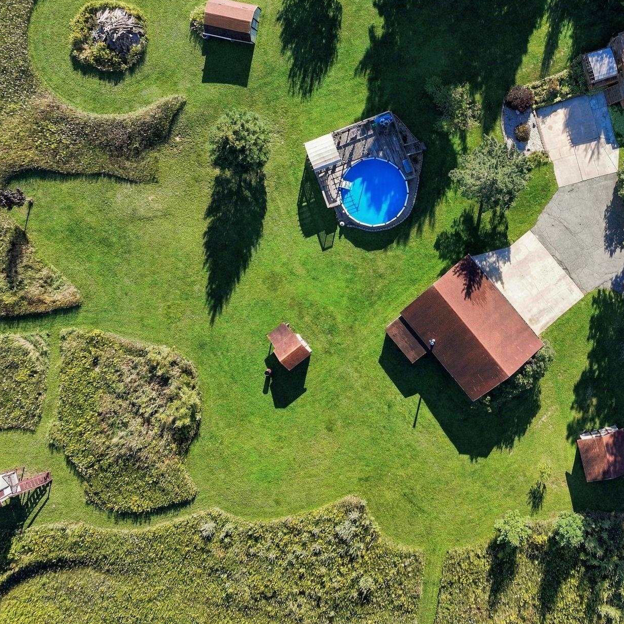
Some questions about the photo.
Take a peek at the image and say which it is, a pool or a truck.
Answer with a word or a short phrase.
pool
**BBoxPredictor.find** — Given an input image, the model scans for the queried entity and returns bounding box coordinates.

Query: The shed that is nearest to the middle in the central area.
[269,319,315,369]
